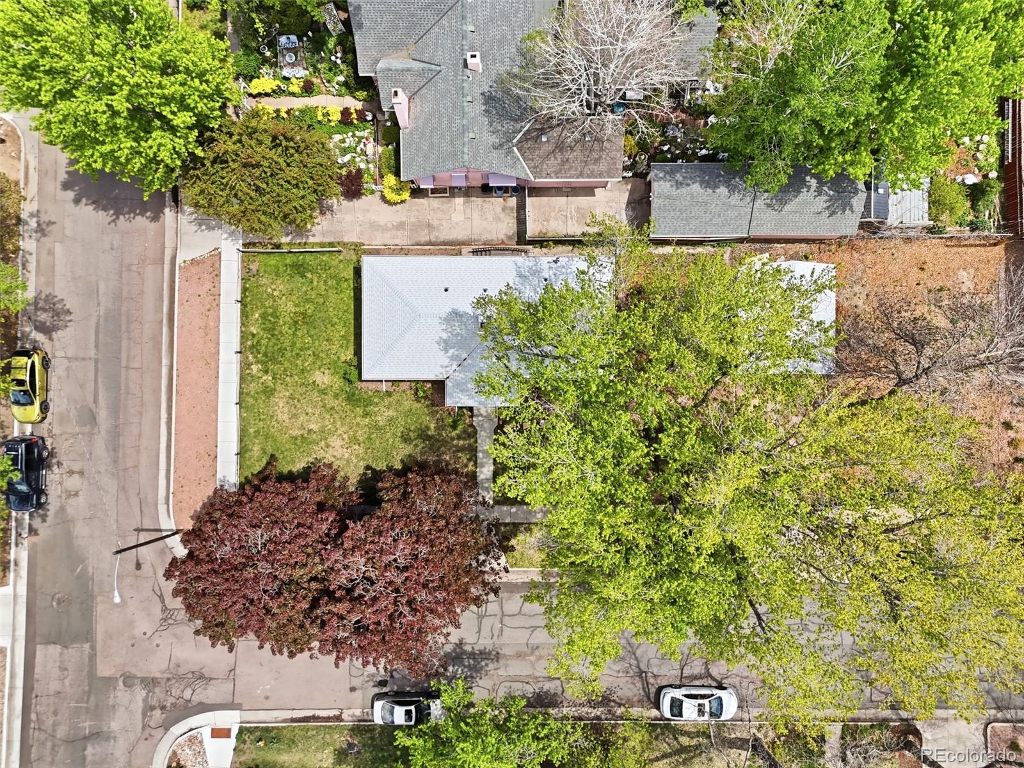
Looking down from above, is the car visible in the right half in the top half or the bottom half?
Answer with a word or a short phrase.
bottom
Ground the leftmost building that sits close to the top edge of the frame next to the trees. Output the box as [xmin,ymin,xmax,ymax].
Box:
[351,0,624,197]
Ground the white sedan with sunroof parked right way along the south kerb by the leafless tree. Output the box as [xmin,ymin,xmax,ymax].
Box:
[659,684,739,726]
